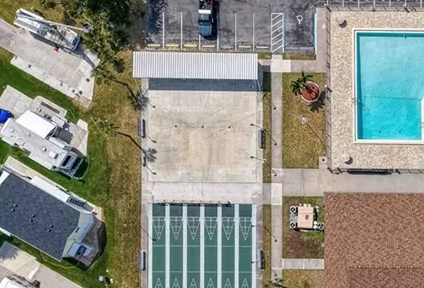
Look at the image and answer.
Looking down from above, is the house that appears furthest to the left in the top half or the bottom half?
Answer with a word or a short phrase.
bottom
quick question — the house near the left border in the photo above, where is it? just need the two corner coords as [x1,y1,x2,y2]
[0,171,103,261]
